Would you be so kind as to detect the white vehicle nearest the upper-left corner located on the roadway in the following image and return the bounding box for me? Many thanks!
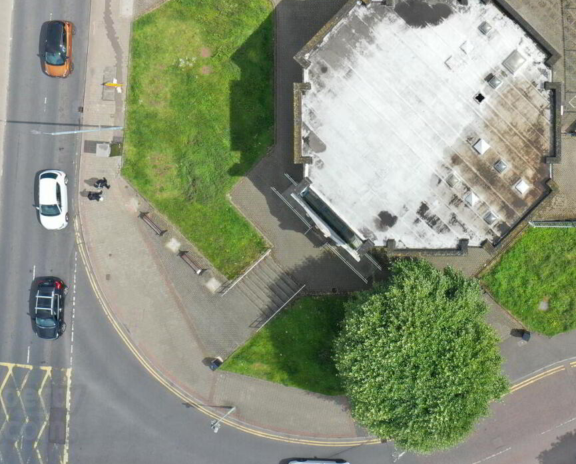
[36,170,72,230]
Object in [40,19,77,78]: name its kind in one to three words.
car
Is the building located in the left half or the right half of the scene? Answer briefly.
right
